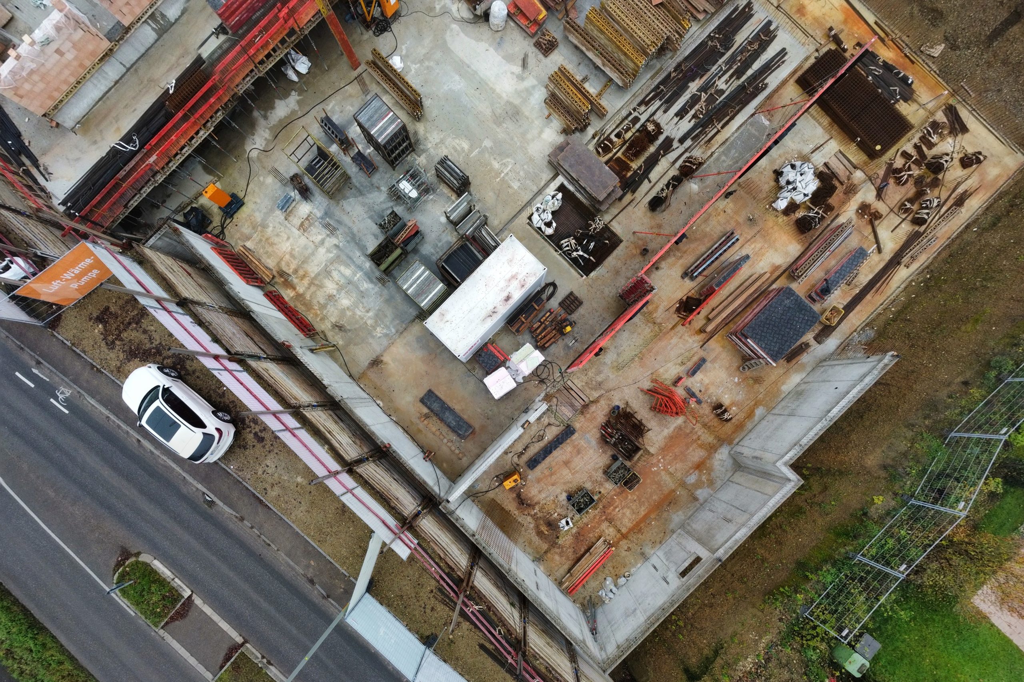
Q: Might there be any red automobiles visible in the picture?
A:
No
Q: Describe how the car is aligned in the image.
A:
on a diagonal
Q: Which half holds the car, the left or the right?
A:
left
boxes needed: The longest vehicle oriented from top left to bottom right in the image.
[119,361,243,467]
